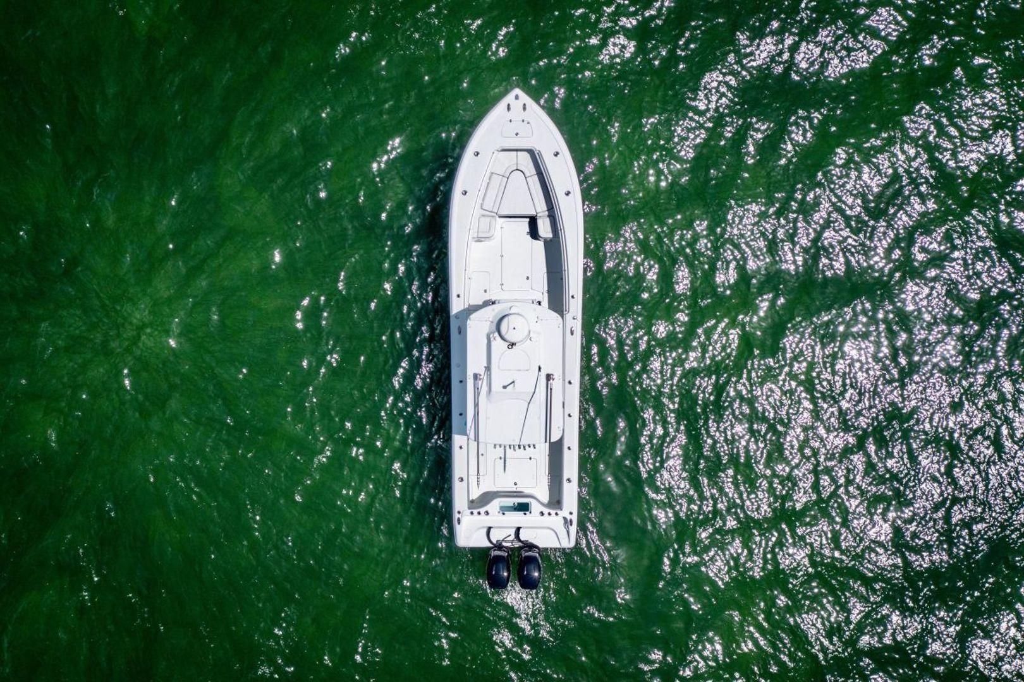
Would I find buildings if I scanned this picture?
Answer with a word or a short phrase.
No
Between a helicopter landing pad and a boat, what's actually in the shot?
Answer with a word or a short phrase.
boat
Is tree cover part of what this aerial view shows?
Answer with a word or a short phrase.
No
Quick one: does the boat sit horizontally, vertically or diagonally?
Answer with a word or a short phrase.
vertically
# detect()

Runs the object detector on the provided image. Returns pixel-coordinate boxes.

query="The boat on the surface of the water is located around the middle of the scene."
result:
[448,86,585,589]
